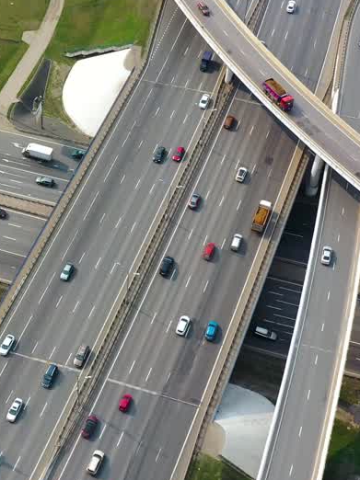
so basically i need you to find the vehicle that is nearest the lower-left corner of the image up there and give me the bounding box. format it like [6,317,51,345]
[7,399,24,422]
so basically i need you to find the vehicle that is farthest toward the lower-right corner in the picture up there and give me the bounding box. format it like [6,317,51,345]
[253,326,276,342]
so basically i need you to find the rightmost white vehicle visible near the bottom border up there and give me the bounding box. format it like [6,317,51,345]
[86,451,105,477]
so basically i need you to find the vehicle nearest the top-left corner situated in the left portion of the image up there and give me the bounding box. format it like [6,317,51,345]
[23,142,52,159]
